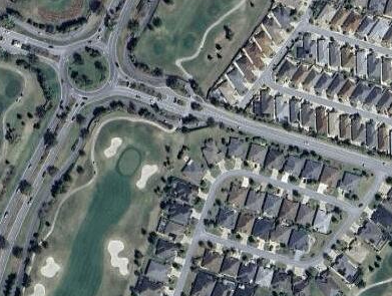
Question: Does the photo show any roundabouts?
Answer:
Yes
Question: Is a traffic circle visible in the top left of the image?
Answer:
Yes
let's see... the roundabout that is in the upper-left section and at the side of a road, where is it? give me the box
[59,40,119,101]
